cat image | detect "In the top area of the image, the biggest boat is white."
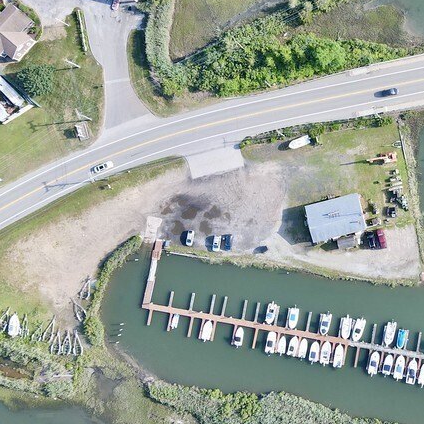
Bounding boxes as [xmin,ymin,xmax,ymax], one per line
[288,134,312,149]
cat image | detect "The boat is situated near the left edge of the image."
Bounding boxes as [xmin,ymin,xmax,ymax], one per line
[8,312,20,340]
